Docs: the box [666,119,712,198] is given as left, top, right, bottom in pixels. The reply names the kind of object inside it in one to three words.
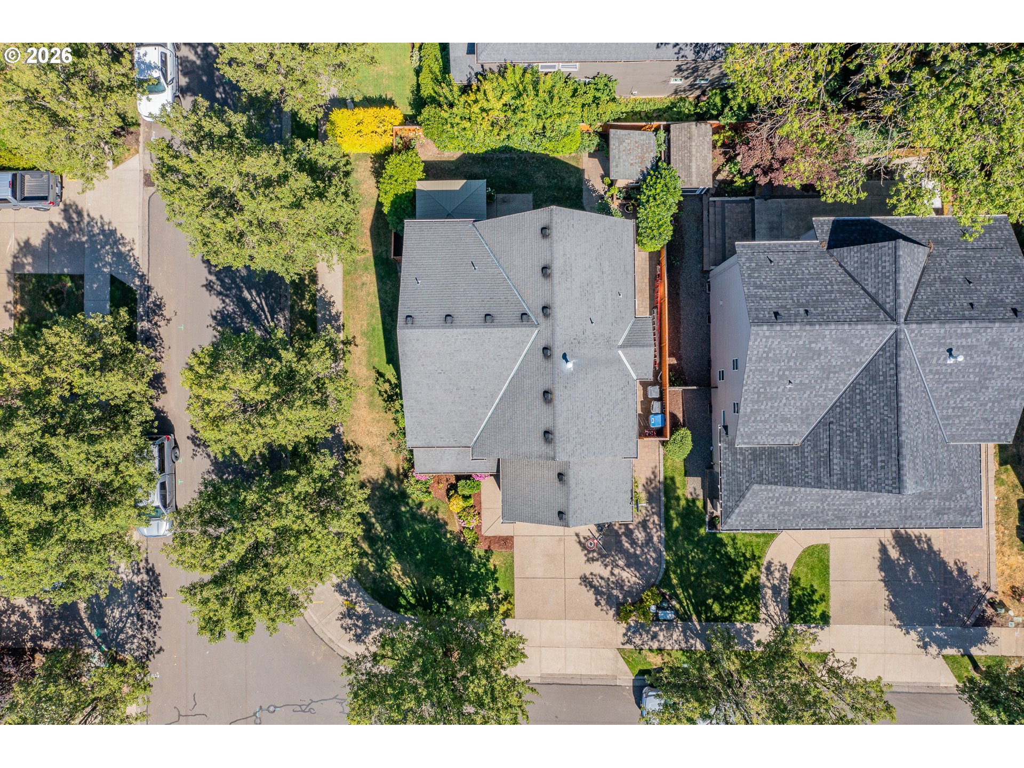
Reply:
shed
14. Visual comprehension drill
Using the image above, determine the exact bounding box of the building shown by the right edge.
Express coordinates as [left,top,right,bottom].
[705,212,1024,533]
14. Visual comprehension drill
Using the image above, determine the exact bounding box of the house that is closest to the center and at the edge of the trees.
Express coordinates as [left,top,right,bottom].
[397,204,655,527]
